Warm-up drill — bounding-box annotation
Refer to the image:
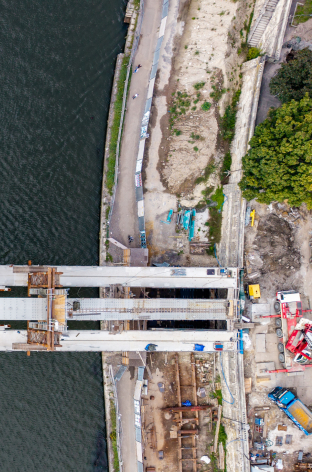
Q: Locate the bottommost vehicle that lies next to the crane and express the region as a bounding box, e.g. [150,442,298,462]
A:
[263,386,312,436]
